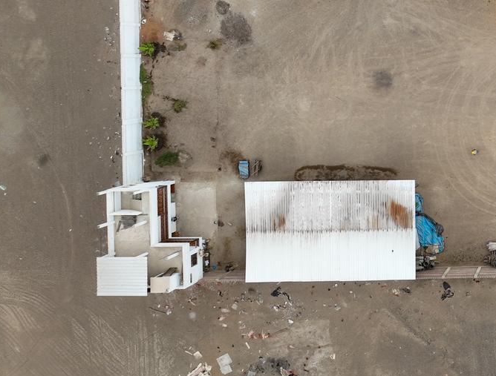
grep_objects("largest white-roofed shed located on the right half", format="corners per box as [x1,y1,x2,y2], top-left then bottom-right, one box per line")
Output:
[245,180,420,282]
